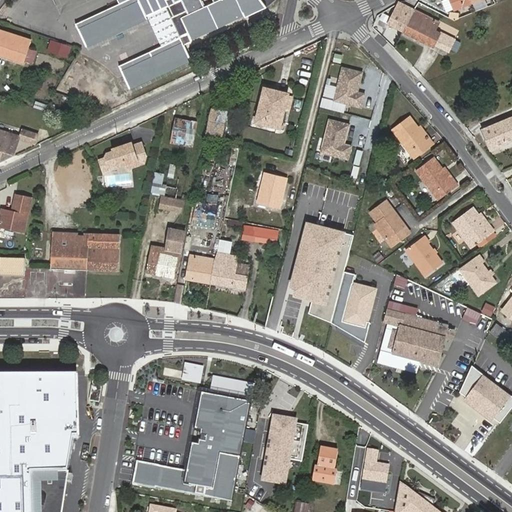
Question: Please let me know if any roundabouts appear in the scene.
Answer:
Yes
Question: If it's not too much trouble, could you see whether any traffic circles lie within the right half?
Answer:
No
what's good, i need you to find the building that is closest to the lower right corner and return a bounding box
[394,482,440,512]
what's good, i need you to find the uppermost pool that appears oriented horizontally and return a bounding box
[105,173,134,188]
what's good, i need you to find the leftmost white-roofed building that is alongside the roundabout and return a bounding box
[0,371,78,512]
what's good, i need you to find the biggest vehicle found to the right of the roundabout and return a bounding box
[272,342,316,368]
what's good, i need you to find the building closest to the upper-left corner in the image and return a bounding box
[0,29,37,64]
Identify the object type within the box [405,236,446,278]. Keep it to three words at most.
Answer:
house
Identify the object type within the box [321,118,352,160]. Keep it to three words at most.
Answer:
house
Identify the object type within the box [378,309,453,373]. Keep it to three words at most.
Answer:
building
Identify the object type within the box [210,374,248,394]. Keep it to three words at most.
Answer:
shed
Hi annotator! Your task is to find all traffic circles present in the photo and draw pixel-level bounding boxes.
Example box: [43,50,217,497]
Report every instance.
[78,302,152,380]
